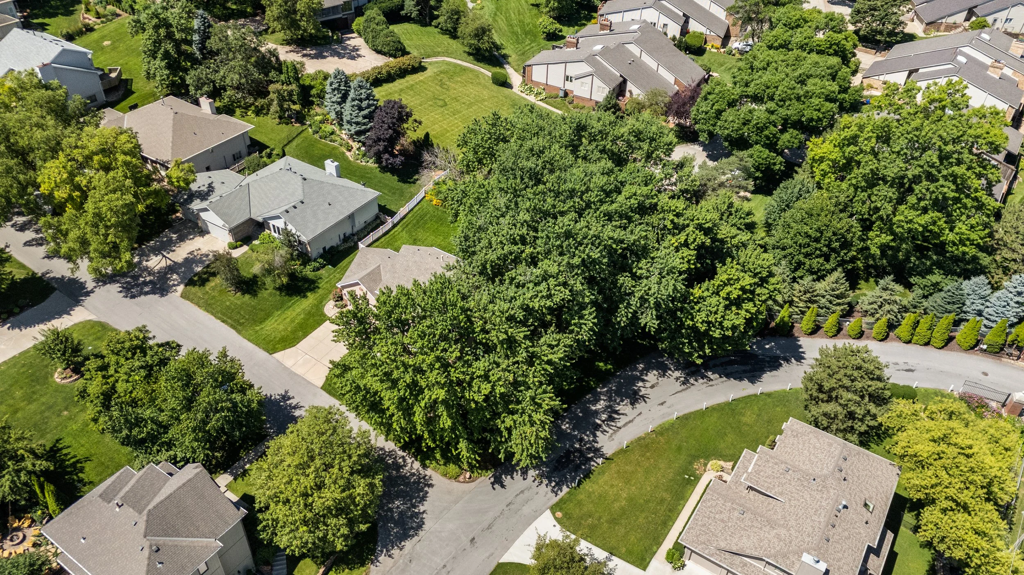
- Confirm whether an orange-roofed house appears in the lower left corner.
No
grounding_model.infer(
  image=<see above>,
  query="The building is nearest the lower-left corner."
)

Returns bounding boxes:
[39,461,254,575]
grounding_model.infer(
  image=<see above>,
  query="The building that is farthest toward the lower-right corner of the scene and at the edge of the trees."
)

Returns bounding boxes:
[677,417,902,575]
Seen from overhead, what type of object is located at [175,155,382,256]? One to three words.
house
